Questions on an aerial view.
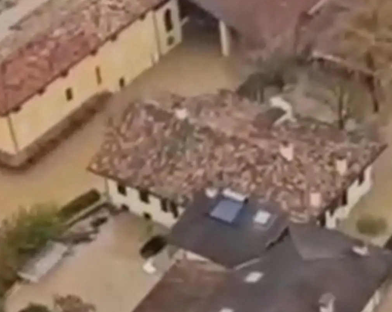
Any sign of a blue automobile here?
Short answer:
No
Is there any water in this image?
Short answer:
Yes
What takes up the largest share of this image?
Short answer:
buildings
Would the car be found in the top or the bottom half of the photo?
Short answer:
bottom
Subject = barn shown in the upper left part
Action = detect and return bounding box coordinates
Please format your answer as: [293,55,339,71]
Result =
[0,0,174,155]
